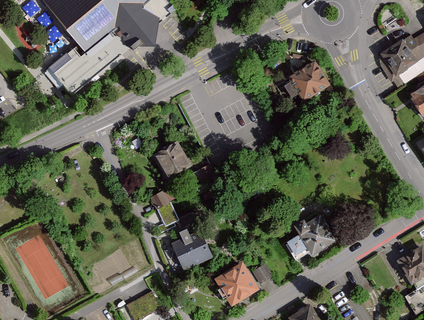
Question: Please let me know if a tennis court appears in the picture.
Yes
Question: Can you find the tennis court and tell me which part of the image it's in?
bottom left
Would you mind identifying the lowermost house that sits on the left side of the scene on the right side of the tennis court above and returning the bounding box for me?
[127,292,158,320]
